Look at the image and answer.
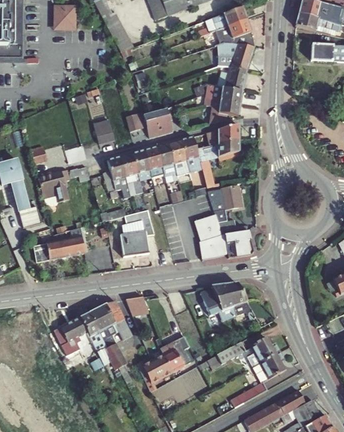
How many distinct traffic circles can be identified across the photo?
1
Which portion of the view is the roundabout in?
right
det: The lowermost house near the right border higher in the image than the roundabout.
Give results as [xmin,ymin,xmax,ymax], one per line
[310,42,335,66]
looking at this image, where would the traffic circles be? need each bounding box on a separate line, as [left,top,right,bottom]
[266,166,340,240]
